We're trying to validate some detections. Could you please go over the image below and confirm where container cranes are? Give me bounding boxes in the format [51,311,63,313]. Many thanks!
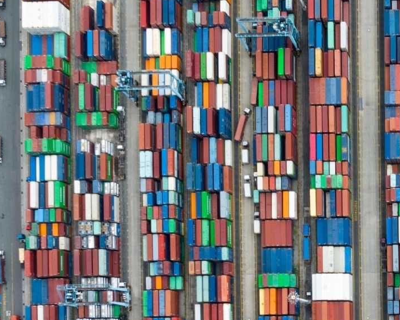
[114,65,186,108]
[58,280,131,314]
[235,14,300,59]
